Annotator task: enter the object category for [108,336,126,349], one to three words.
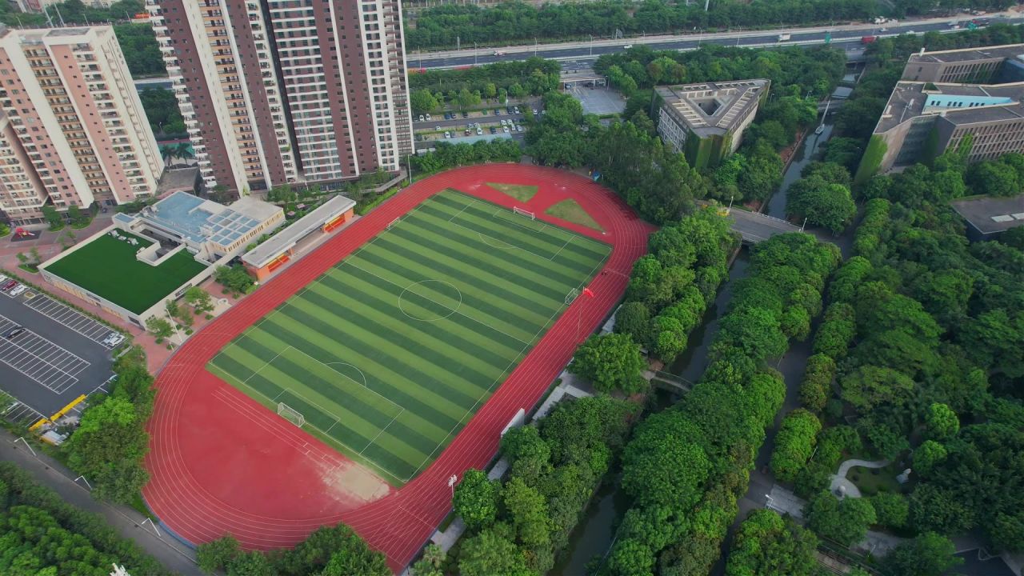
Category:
vehicle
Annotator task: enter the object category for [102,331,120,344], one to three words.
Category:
vehicle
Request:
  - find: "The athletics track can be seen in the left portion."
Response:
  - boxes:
[137,161,653,576]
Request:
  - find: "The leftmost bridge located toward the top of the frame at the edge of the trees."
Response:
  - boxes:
[737,209,790,245]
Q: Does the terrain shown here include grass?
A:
Yes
